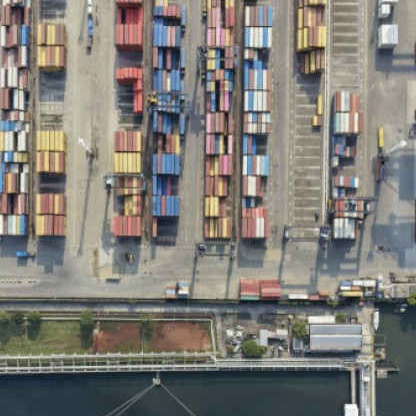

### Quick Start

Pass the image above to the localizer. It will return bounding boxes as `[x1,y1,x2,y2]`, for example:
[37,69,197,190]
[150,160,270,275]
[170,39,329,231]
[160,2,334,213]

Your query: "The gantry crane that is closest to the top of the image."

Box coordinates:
[194,46,240,75]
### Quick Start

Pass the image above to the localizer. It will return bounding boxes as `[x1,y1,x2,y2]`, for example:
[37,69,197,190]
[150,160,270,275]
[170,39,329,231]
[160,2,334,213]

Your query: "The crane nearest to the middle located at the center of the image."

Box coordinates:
[193,240,239,260]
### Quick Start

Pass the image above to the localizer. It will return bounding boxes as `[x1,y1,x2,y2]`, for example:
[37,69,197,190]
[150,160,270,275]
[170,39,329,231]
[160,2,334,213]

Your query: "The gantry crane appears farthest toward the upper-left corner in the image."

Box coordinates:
[147,93,191,121]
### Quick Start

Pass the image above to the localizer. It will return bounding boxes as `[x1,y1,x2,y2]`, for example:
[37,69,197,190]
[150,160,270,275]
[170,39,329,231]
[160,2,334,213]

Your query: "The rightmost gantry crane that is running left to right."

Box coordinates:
[322,195,376,218]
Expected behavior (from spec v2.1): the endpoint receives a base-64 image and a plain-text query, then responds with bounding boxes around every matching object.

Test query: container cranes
[194,46,240,75]
[278,225,330,245]
[147,93,191,121]
[193,240,239,260]
[102,173,150,197]
[322,195,376,218]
